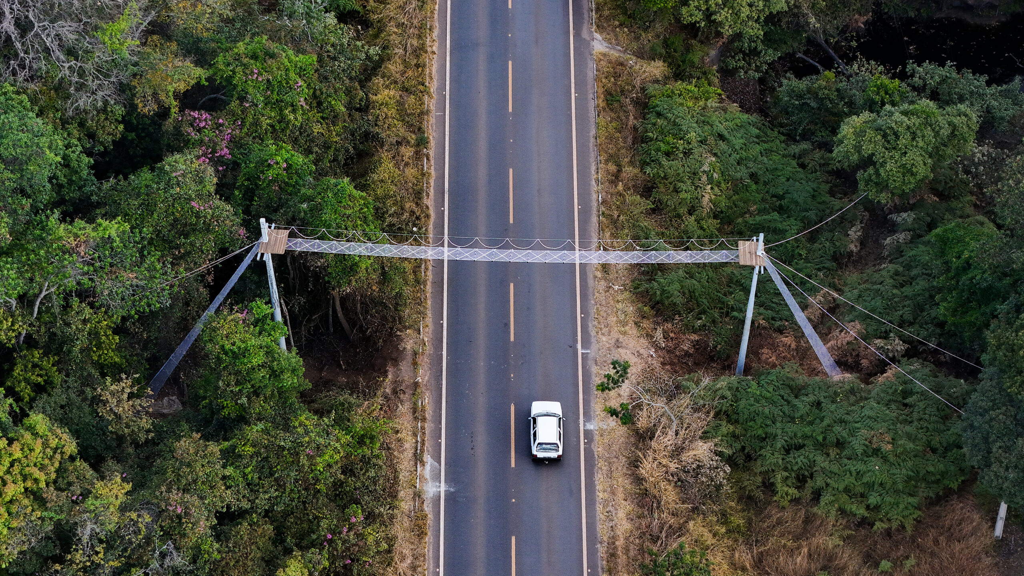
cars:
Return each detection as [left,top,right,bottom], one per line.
[528,401,566,462]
